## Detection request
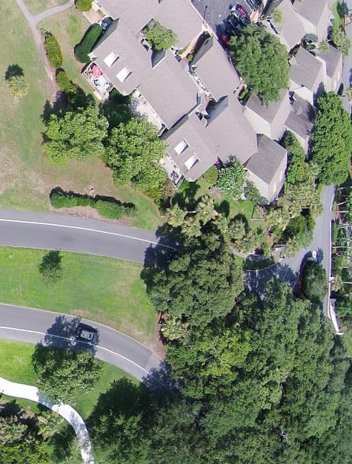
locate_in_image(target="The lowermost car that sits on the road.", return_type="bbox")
[73,326,103,343]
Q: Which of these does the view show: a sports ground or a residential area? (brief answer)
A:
residential area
